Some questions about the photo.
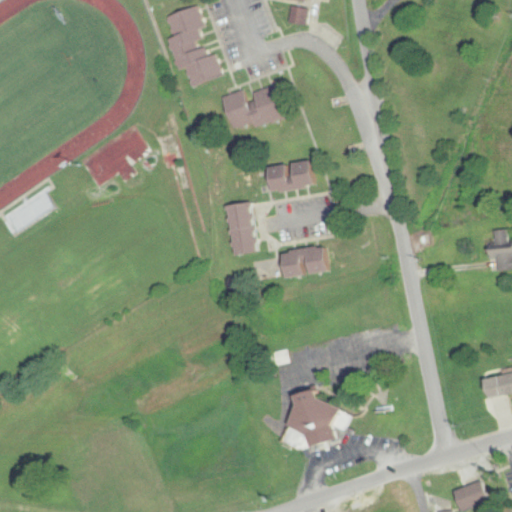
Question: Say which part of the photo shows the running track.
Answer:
top left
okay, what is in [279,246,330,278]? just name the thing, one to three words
building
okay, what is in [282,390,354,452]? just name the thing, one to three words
building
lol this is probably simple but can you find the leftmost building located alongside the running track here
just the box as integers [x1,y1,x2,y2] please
[168,6,228,88]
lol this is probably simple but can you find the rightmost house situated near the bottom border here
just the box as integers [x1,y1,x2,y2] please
[454,481,484,512]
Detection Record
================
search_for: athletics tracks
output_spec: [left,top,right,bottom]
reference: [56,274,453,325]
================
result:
[0,0,146,210]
